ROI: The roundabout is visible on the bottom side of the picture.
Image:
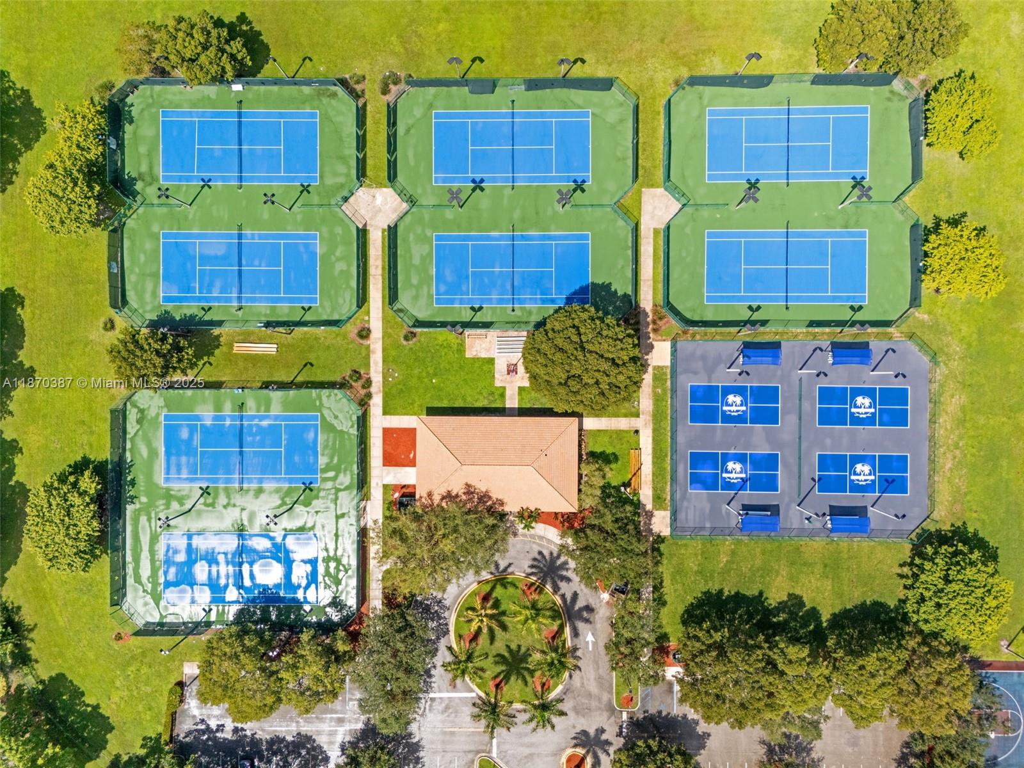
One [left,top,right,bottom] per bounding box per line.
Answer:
[449,571,571,706]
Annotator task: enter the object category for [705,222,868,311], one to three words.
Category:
tennis court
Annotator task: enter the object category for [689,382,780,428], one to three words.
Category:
sports court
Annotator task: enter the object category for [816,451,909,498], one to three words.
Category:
sports court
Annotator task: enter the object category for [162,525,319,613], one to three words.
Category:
tennis court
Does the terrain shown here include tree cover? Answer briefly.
Yes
